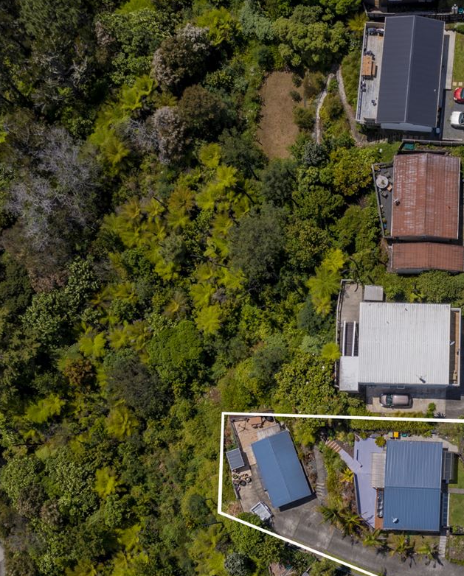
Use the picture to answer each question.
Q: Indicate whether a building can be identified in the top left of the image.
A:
No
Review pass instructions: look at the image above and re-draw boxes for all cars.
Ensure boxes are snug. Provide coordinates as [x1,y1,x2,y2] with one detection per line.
[449,109,464,129]
[380,391,413,409]
[453,88,464,104]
